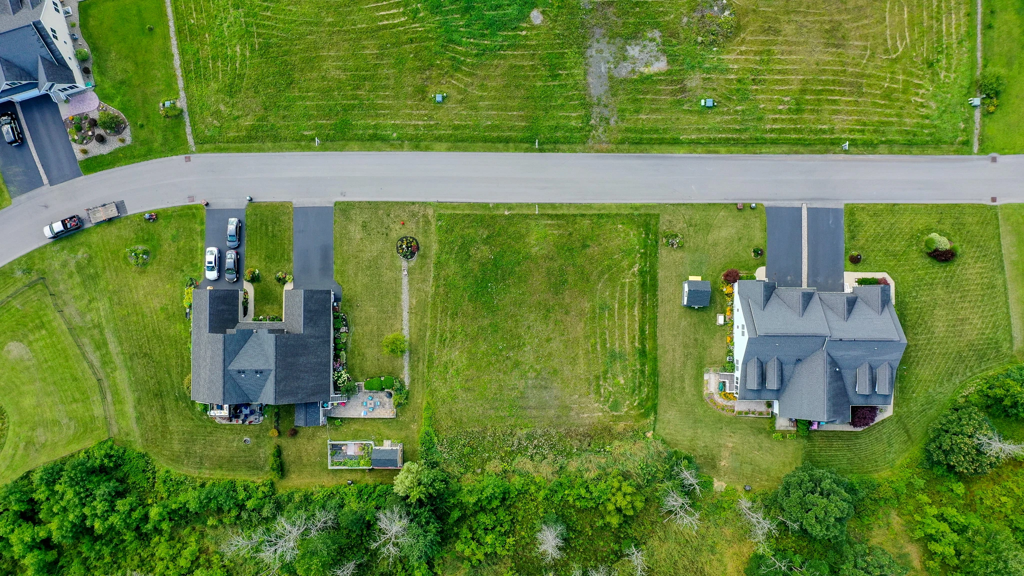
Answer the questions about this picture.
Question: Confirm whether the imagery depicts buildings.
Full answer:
Yes, the frame does contain a building.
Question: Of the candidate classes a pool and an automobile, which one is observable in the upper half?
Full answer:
You can see an automobile in the upper half.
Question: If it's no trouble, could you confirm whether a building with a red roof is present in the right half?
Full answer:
No, in the right half there is no building with a red roof.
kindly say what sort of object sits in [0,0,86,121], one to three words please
house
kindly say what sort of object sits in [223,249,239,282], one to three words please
car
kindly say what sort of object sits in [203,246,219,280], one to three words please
car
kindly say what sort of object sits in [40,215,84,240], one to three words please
truck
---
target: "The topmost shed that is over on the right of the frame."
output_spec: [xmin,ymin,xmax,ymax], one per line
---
[680,281,711,310]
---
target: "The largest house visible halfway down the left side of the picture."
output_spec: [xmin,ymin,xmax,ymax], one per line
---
[191,289,333,405]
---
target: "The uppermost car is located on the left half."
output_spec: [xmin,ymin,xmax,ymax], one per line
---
[0,110,22,145]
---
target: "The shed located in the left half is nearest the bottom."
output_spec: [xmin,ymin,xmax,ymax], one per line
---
[369,443,403,469]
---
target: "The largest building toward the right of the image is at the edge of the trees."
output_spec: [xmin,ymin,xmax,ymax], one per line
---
[734,280,907,422]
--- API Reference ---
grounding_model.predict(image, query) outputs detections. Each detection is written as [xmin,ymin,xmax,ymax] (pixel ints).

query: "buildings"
[734,280,907,422]
[680,281,711,310]
[0,0,86,121]
[191,289,333,405]
[369,443,403,469]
